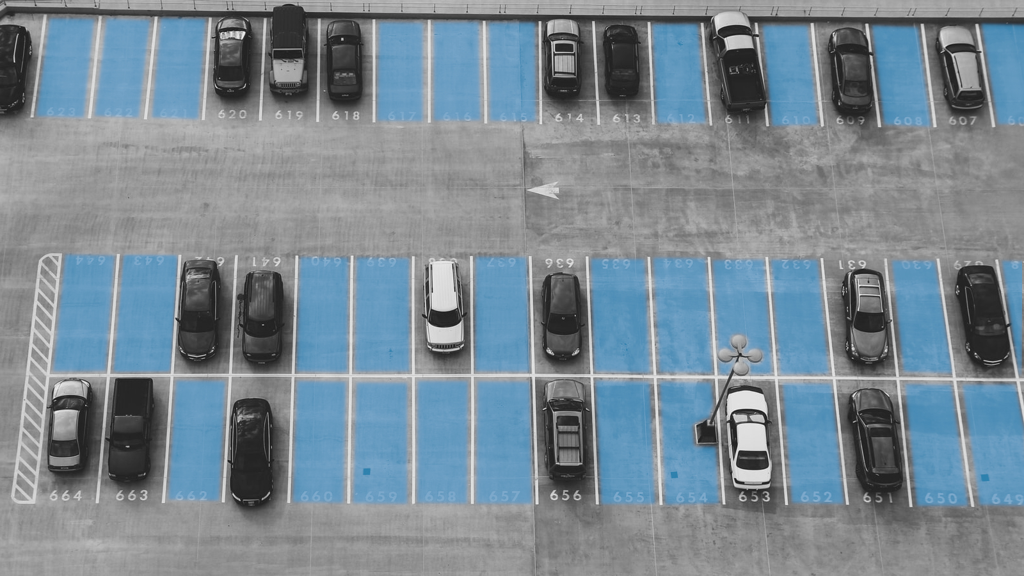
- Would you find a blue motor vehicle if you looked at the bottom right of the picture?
No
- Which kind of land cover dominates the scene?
paved ground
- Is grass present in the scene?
No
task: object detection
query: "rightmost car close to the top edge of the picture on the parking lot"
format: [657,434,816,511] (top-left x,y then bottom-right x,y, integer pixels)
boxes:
[935,27,984,110]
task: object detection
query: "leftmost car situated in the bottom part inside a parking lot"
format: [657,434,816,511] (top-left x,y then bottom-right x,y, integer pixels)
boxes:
[43,379,94,472]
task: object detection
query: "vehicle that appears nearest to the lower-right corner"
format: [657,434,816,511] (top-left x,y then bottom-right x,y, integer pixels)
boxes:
[848,389,906,491]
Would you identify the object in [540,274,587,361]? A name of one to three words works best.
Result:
car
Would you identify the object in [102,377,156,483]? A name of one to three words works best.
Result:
truck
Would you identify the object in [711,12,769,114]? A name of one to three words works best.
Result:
truck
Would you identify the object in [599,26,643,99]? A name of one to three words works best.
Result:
car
